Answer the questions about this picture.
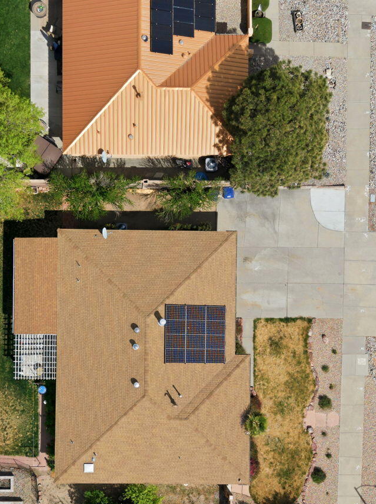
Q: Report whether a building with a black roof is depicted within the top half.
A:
No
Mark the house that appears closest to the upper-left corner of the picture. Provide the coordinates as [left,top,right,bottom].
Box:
[61,0,251,156]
